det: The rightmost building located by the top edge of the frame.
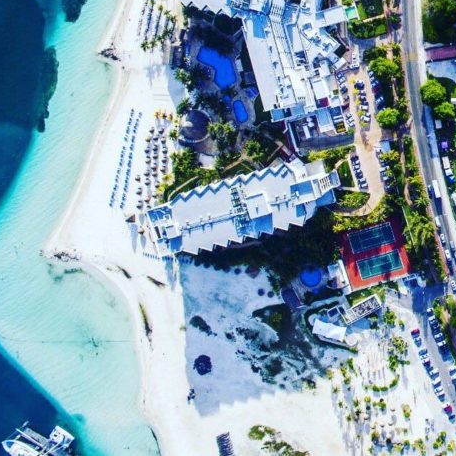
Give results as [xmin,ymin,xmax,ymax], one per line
[289,0,362,115]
